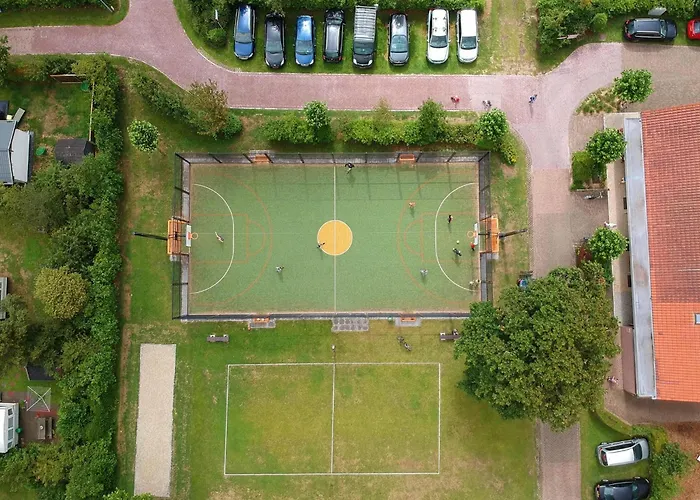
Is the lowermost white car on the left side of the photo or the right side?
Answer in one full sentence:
The lowermost white car is on the right side of the image.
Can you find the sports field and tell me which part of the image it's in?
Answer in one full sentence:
The sports field appears toward the bottom of the photo.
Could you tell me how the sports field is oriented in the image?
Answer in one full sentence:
Seen from above, the sports field lies horizontally.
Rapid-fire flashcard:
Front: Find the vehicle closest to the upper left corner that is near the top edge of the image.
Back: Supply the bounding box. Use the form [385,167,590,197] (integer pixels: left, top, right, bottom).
[232,8,256,60]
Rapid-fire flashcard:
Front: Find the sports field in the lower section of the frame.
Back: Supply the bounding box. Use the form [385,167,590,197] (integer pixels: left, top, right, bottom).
[224,363,440,475]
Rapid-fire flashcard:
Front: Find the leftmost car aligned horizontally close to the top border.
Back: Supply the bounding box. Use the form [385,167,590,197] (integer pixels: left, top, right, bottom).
[621,17,677,41]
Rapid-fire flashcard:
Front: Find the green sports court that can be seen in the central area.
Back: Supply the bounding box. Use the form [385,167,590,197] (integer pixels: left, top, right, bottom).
[181,155,489,321]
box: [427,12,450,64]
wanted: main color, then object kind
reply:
white car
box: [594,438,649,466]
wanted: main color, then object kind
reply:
white car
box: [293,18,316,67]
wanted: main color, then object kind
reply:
blue car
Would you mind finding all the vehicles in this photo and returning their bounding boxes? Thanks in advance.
[321,10,345,64]
[352,1,377,69]
[621,17,677,41]
[684,19,700,41]
[262,16,286,69]
[388,16,411,66]
[232,8,256,60]
[427,12,450,64]
[293,18,316,67]
[455,12,479,64]
[592,478,651,500]
[594,438,649,466]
